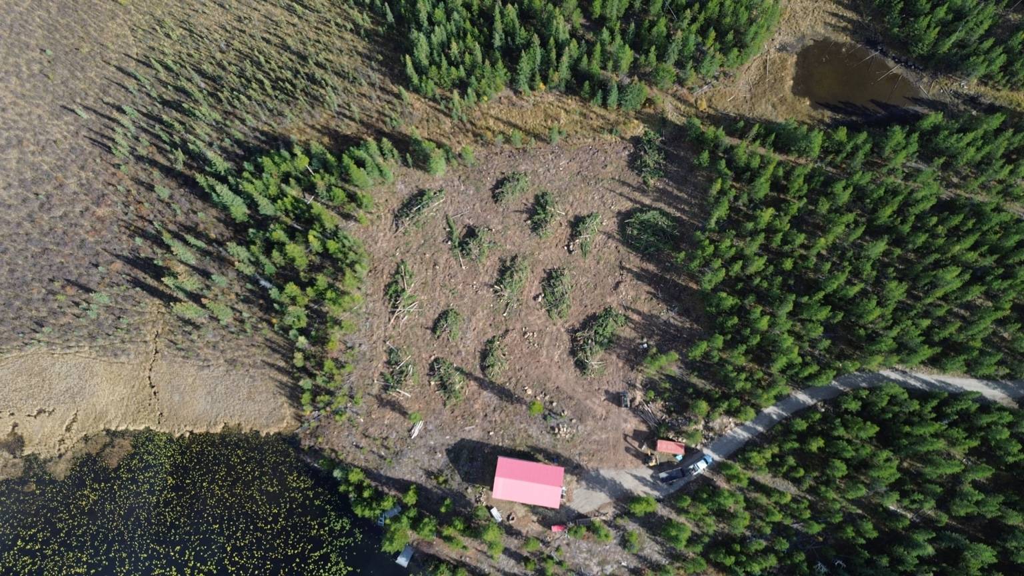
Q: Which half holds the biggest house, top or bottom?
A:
bottom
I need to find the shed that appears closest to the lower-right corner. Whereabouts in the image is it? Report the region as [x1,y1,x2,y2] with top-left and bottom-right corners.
[655,439,686,455]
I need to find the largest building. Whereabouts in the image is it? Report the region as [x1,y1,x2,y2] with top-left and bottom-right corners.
[492,457,567,509]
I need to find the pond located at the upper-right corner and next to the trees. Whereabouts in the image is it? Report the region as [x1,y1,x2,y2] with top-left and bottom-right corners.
[788,38,929,123]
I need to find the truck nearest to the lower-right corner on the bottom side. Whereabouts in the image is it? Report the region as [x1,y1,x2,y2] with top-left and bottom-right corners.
[685,451,717,477]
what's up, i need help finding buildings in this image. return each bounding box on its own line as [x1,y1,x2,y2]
[492,457,567,509]
[655,439,686,455]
